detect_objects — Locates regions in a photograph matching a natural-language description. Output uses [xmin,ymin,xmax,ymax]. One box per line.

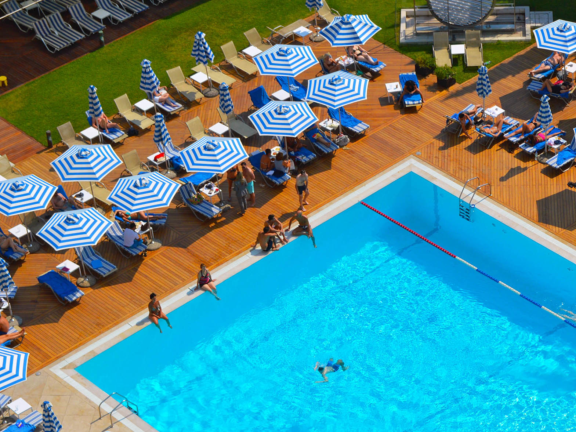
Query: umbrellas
[253,46,318,103]
[87,85,111,147]
[306,0,323,40]
[41,203,111,281]
[218,81,240,143]
[178,139,248,210]
[320,8,382,80]
[248,99,318,170]
[534,18,576,85]
[0,350,35,431]
[107,169,179,246]
[0,170,57,248]
[474,65,493,126]
[143,59,166,122]
[0,259,23,327]
[51,145,122,210]
[155,115,178,179]
[536,99,555,163]
[306,72,368,142]
[45,400,66,432]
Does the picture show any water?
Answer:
Yes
